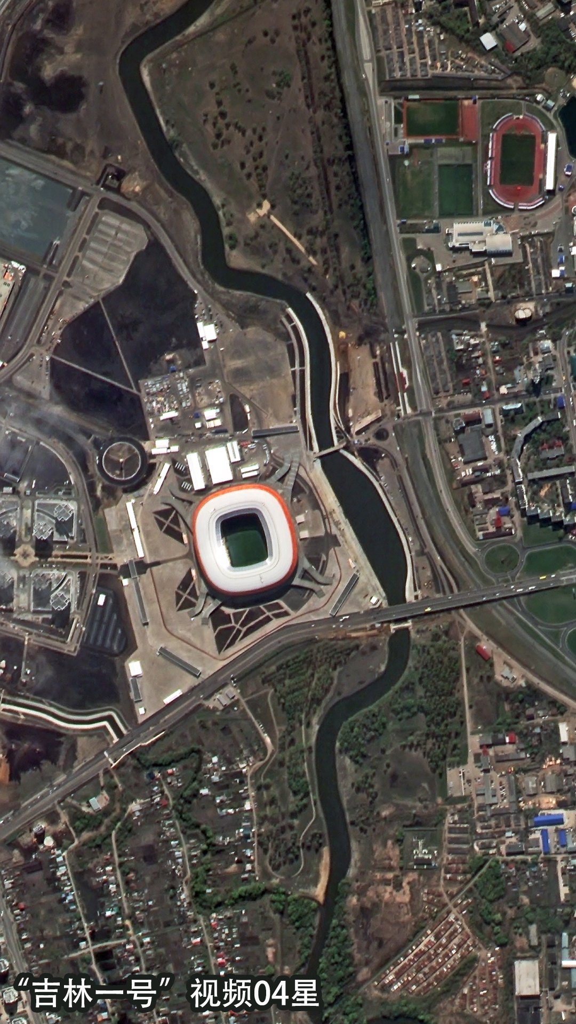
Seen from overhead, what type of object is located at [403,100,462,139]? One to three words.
soccer field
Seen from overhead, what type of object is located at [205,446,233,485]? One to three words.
building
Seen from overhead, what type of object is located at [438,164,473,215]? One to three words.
soccer field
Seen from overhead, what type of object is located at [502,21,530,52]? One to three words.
building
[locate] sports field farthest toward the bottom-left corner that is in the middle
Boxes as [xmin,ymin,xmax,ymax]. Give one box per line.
[221,512,264,566]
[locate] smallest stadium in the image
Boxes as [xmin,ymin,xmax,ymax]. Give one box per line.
[486,108,558,211]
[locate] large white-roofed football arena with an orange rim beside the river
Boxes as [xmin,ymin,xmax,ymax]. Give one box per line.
[186,478,302,601]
